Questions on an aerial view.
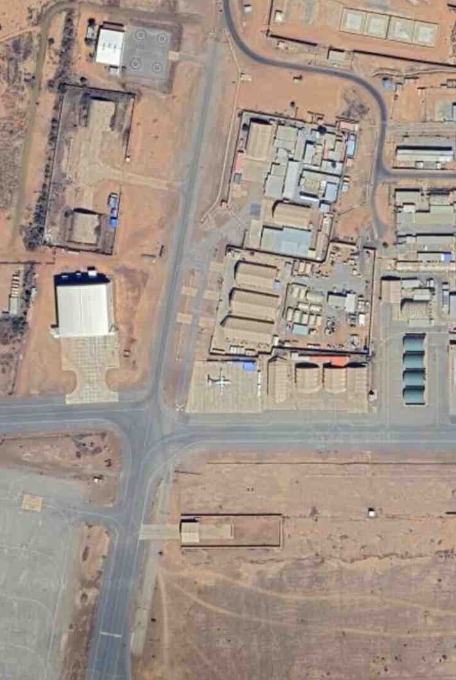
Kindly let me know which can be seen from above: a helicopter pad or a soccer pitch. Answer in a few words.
helicopter pad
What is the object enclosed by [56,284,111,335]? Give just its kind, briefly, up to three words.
hangar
